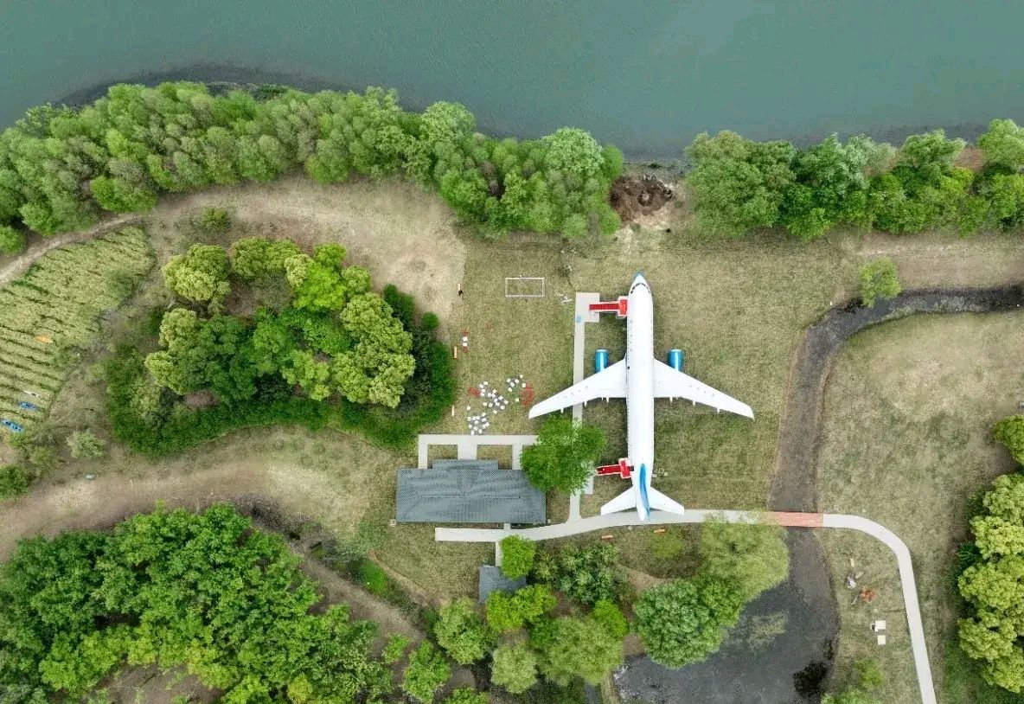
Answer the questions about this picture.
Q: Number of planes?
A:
1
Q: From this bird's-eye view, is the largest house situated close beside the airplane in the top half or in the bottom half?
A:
bottom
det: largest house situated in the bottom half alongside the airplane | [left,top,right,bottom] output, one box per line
[396,457,546,524]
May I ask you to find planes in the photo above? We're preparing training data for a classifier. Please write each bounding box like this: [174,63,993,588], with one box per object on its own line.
[529,273,753,522]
